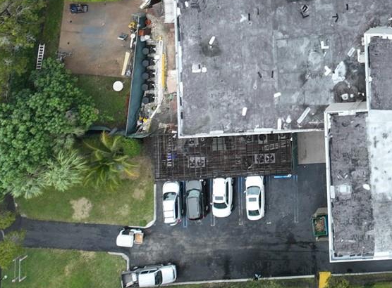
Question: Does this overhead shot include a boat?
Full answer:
No, the frame has no boat in it.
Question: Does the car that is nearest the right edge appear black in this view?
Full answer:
No, the car that is nearest the right edge is white.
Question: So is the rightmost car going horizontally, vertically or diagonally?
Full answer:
Seen from above, the rightmost car lies vertically.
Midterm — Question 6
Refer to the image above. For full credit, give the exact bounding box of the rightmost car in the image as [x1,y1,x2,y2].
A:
[243,175,265,220]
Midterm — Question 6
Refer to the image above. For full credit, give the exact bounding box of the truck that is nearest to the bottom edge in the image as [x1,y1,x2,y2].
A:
[120,262,178,288]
